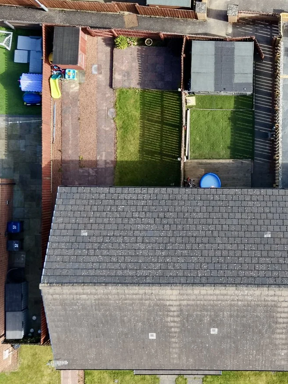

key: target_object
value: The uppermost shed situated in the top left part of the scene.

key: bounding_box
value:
[51,26,86,68]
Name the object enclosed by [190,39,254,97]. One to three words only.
shed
